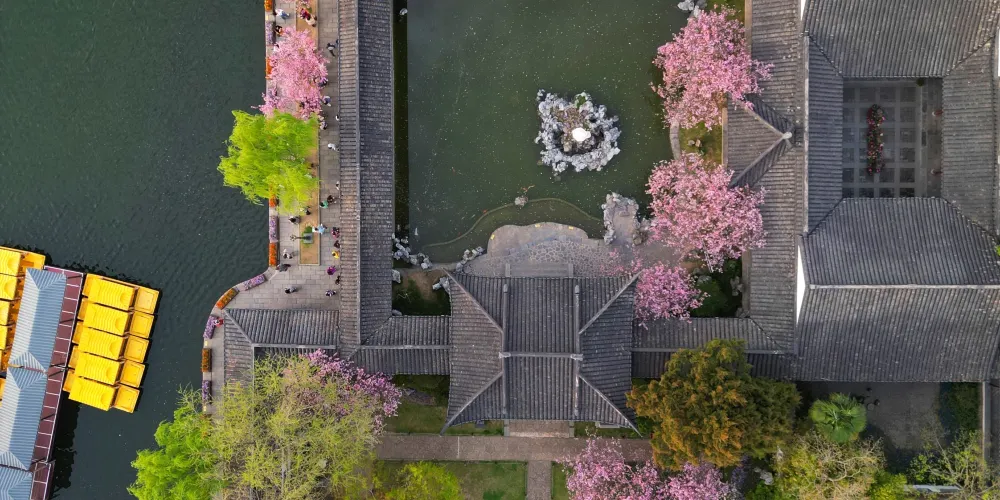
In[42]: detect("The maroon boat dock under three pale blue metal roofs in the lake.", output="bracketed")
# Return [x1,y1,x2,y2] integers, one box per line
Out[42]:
[0,266,88,500]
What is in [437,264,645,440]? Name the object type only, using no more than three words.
building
